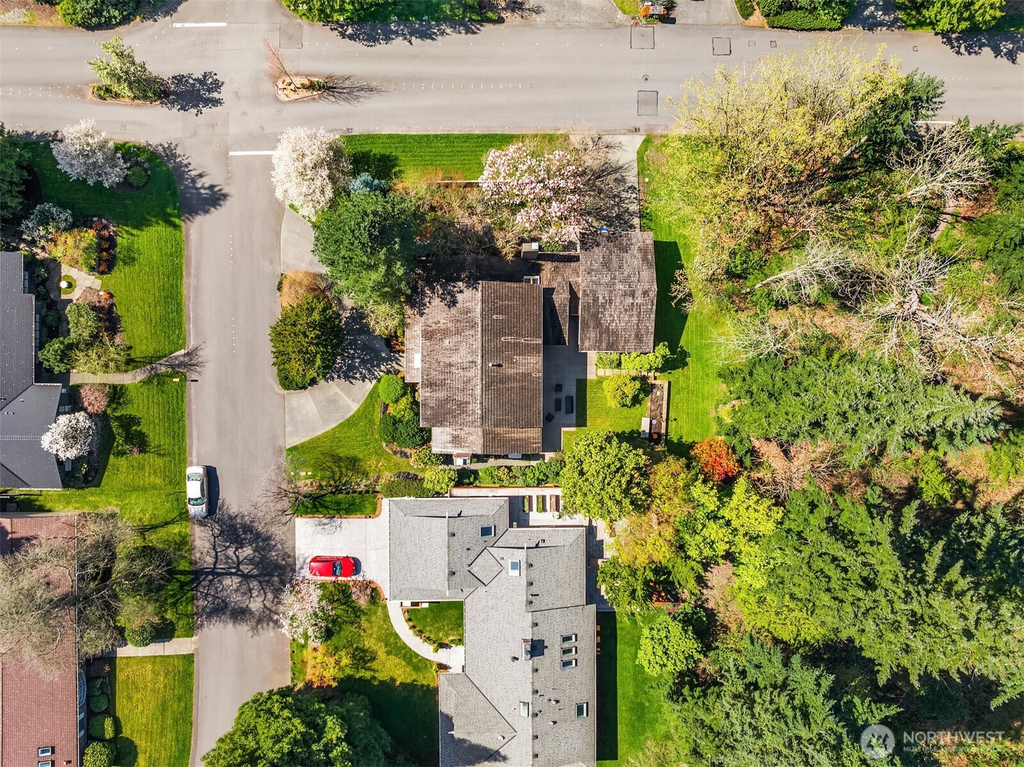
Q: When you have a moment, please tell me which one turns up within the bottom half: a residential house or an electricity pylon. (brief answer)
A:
residential house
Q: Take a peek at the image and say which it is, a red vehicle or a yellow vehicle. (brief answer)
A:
red vehicle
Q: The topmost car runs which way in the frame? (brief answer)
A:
vertically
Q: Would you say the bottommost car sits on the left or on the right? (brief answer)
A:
left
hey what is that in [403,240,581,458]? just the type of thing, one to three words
house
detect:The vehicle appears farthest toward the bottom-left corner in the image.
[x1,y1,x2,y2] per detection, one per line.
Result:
[186,466,213,517]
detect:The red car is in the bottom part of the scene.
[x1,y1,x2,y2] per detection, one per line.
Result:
[309,555,356,580]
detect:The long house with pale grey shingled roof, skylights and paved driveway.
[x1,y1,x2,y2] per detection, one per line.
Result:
[388,496,597,767]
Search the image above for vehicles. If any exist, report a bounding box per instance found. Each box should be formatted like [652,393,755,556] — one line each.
[186,466,213,517]
[309,555,356,580]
